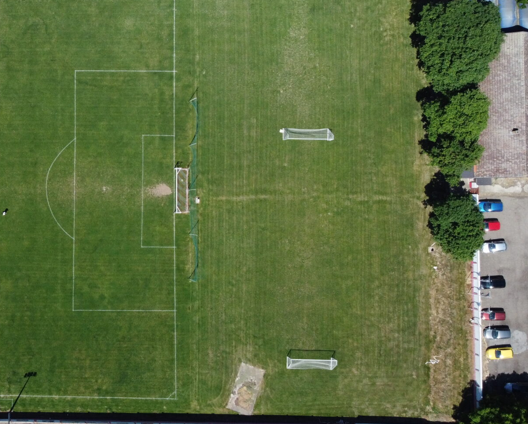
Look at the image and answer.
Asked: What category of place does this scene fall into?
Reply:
sports ground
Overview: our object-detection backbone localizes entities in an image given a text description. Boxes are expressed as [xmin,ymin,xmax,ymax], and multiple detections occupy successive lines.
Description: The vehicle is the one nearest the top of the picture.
[481,199,508,214]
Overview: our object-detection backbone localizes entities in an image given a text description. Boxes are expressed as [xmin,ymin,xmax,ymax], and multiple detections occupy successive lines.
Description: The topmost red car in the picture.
[482,219,503,233]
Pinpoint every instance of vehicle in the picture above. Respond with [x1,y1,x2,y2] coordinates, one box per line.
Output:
[485,347,516,361]
[482,219,503,233]
[481,199,508,214]
[483,278,508,291]
[483,328,514,341]
[483,310,508,324]
[482,241,509,254]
